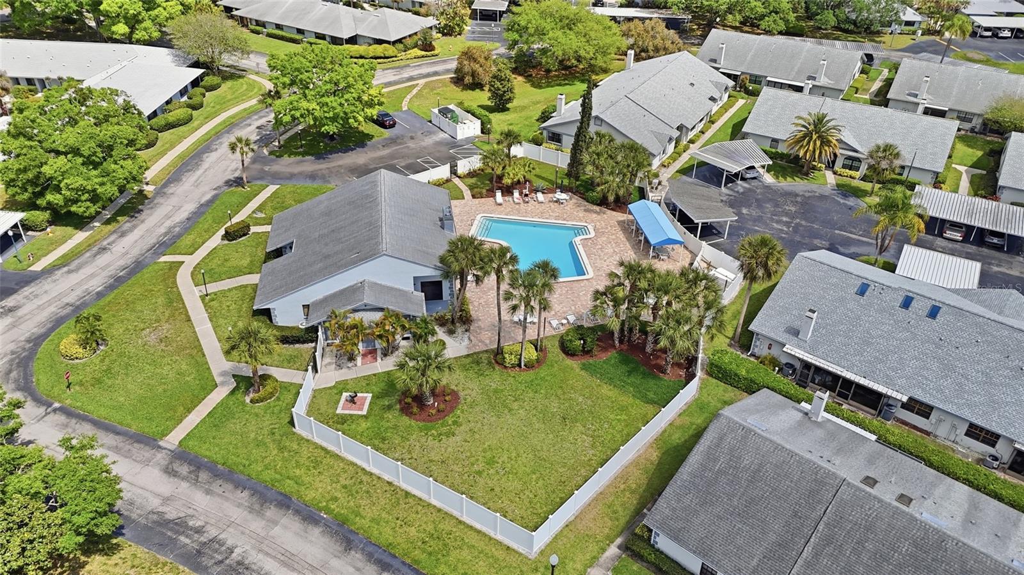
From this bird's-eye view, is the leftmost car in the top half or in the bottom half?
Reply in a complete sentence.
The leftmost car sits in the top half of the picture.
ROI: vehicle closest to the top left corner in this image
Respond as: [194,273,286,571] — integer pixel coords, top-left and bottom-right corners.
[368,110,401,130]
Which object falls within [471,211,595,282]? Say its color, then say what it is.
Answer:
blue swimming pool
